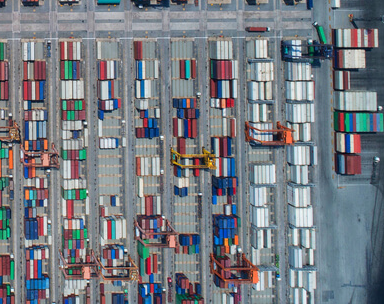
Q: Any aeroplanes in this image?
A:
No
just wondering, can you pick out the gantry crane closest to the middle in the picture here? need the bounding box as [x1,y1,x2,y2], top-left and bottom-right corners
[170,144,220,169]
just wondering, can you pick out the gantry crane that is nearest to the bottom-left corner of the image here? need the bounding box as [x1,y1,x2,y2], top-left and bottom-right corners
[59,248,102,281]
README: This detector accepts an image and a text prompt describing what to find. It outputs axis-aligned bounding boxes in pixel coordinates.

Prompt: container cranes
[210,252,261,283]
[244,120,295,146]
[279,38,334,61]
[0,116,22,141]
[134,218,180,248]
[170,144,220,169]
[97,251,144,282]
[20,142,61,168]
[59,248,102,281]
